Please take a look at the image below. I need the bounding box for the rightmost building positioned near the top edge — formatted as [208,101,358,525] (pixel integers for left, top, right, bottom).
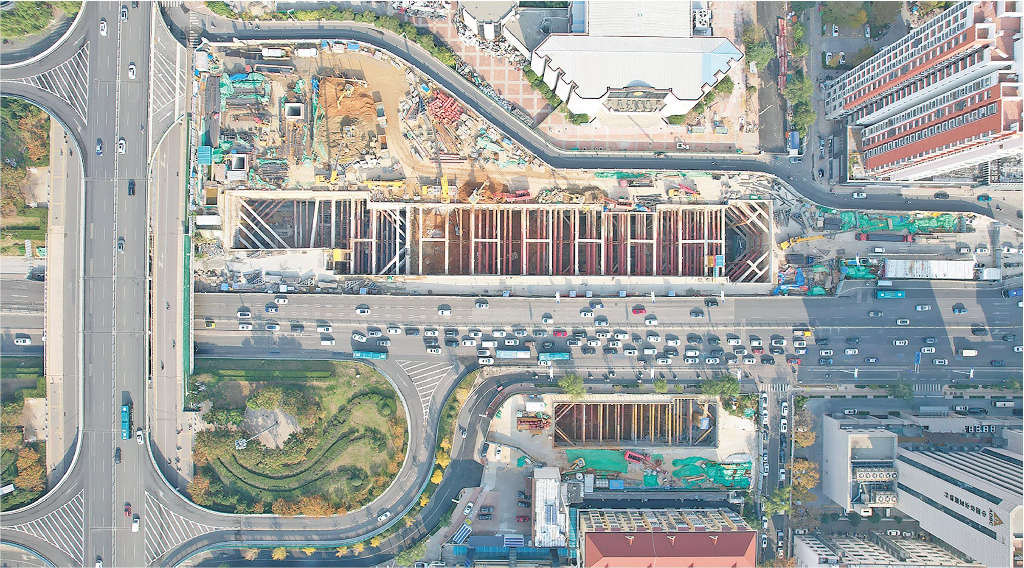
[828,0,1024,176]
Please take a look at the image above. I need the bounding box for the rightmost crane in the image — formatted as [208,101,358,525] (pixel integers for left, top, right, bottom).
[771,223,882,256]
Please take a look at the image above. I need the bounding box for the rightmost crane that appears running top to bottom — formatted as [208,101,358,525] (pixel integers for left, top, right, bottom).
[424,119,455,204]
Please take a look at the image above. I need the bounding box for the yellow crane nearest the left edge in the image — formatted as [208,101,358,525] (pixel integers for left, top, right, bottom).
[314,131,348,188]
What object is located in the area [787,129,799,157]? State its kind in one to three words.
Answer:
vehicle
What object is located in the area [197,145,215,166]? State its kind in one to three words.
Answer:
building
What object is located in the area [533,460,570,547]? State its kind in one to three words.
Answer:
house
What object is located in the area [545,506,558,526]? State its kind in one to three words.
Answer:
solar panel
